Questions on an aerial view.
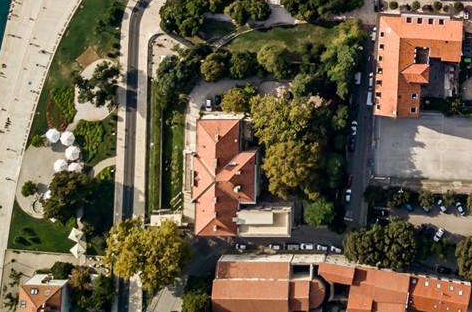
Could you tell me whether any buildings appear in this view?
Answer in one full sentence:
Yes, a building appears in the view.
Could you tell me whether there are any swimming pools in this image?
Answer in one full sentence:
No, I can see no swimming pool in this picture.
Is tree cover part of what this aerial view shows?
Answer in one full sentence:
Yes, there is tree cover in the image.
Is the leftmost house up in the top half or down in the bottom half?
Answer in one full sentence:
The bottom half of the photo is where the leftmost house is.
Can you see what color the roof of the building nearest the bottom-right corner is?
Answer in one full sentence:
From above, the roof of the building nearest the bottom-right corner looks orange.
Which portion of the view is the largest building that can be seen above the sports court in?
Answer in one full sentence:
The largest building that can be seen above the sports court sits in the top right section of the image.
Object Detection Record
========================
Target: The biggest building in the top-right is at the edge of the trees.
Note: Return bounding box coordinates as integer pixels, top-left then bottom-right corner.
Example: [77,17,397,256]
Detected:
[372,13,461,117]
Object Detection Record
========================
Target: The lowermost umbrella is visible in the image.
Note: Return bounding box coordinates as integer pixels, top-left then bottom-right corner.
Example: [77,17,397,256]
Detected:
[69,242,86,259]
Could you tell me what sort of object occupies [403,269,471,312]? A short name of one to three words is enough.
building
